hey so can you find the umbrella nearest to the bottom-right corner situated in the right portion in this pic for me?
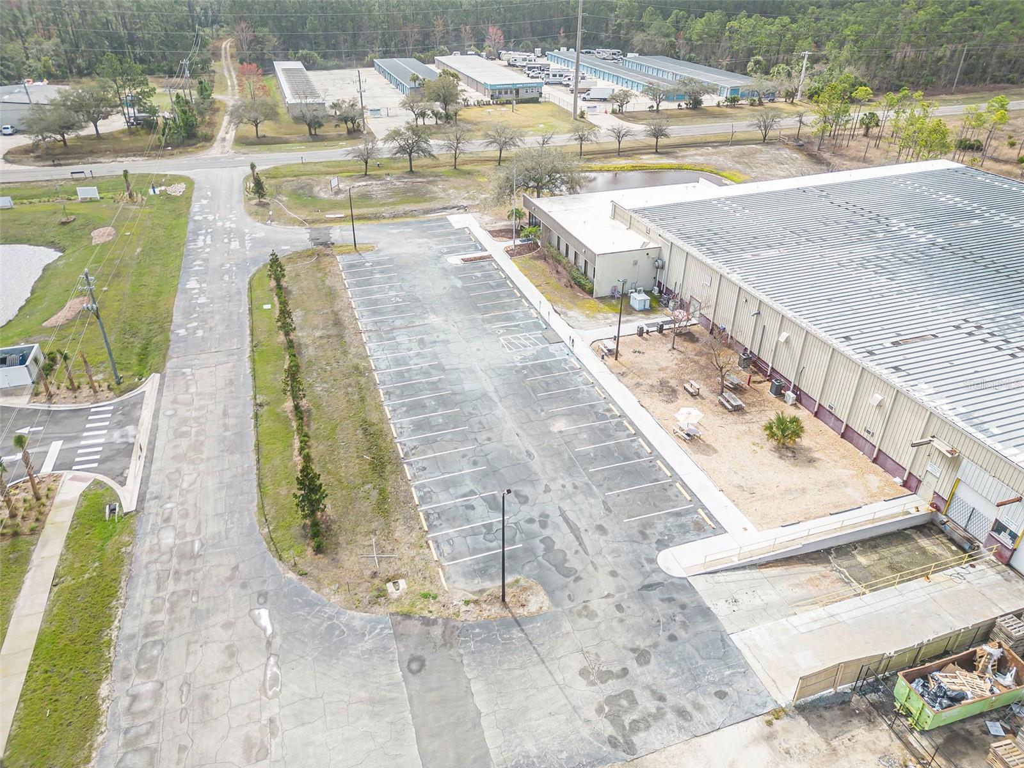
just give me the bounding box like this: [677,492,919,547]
[675,409,707,428]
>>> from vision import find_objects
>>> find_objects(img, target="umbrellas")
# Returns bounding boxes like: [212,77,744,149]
[675,409,707,428]
[667,310,694,320]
